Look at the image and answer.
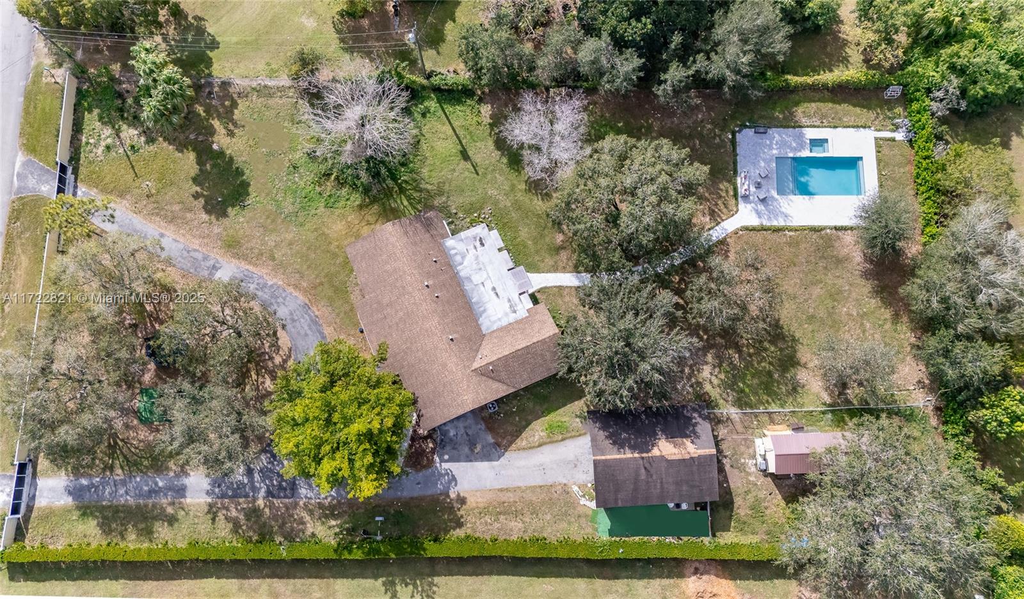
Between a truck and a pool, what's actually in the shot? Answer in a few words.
pool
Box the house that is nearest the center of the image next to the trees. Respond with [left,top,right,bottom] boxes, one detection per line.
[345,209,574,435]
